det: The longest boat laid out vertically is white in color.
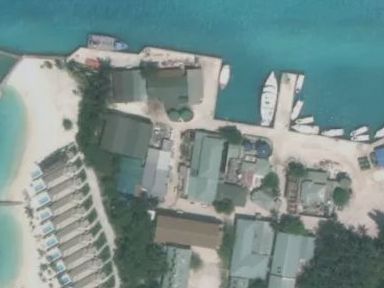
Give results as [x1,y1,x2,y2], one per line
[261,72,277,127]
